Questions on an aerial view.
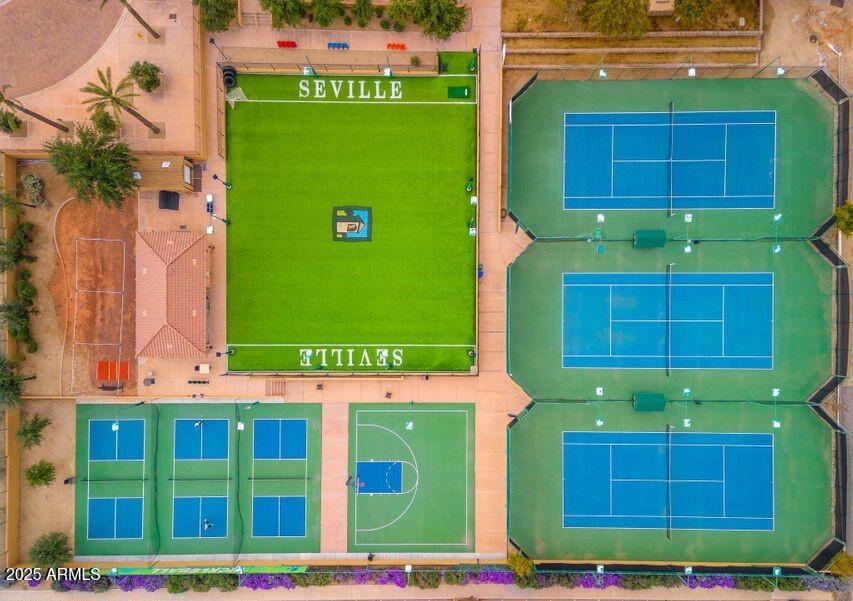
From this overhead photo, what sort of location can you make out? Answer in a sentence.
This image shows a sports ground.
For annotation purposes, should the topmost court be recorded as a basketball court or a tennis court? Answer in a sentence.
It looks like the topmost court is a tennis court.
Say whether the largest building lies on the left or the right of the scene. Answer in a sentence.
The largest building is on the left side of the image.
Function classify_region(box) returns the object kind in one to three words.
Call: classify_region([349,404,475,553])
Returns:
basketball court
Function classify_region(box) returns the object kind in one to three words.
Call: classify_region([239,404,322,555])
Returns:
sports court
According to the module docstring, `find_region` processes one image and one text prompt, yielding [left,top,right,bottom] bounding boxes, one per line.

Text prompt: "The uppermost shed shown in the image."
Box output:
[133,153,192,192]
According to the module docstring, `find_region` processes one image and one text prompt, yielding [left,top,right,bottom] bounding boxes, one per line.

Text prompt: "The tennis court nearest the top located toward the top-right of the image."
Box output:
[513,78,834,240]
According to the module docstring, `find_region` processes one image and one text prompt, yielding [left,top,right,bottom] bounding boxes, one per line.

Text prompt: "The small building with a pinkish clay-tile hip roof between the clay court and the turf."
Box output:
[135,230,211,358]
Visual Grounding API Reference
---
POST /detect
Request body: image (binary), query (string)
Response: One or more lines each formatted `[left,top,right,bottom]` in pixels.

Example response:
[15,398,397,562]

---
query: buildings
[133,153,192,192]
[135,230,211,358]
